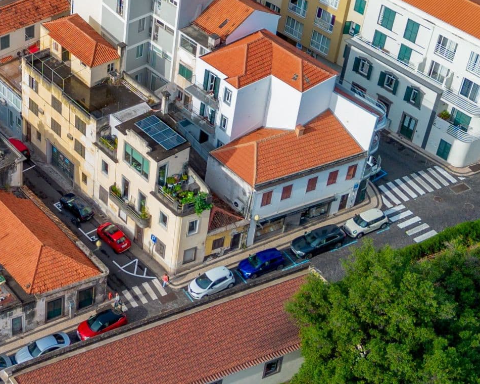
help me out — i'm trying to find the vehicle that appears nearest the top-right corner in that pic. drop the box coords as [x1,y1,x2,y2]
[360,152,388,186]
